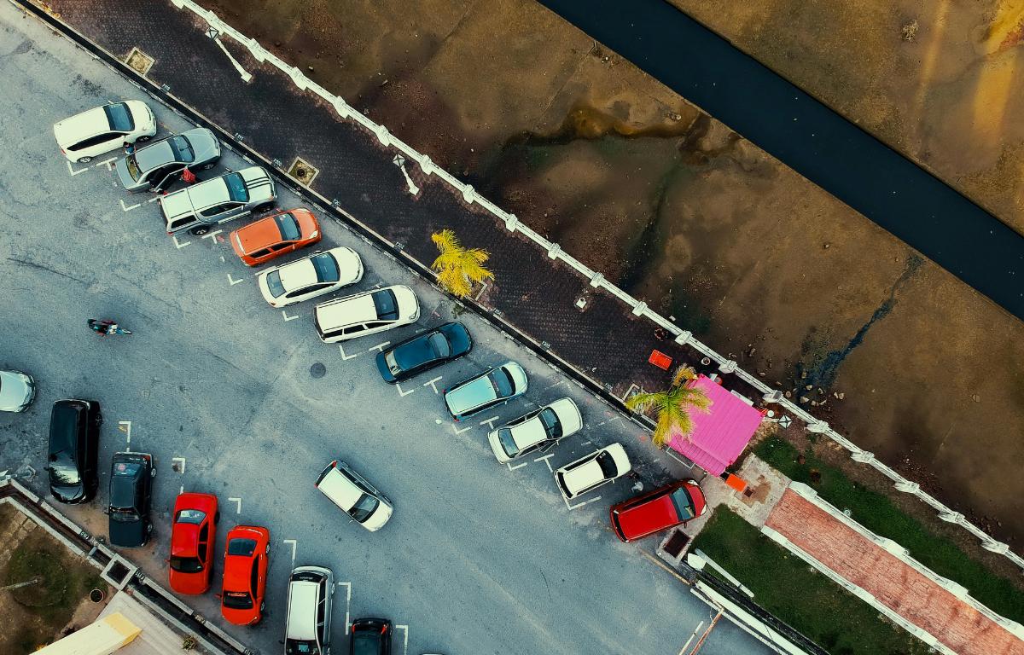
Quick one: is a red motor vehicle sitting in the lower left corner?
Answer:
Yes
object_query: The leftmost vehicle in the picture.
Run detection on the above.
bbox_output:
[0,367,39,411]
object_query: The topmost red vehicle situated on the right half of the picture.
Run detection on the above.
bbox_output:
[609,478,704,544]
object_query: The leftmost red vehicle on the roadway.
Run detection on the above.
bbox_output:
[163,493,220,595]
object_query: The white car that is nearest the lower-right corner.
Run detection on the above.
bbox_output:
[554,443,631,500]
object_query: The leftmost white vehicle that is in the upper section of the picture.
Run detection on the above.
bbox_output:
[54,102,157,162]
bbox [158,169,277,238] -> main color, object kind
white truck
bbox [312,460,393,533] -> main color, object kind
white car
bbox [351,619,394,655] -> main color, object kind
black car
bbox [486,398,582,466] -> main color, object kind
white car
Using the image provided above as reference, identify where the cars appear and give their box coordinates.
[280,566,335,655]
[554,443,631,500]
[312,460,393,533]
[54,102,157,162]
[442,360,526,422]
[351,619,394,655]
[213,526,271,625]
[609,478,704,544]
[116,131,221,195]
[102,453,156,547]
[259,247,361,310]
[0,367,39,411]
[375,323,472,387]
[231,207,320,267]
[163,493,220,595]
[44,400,104,506]
[486,398,582,466]
[313,284,419,344]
